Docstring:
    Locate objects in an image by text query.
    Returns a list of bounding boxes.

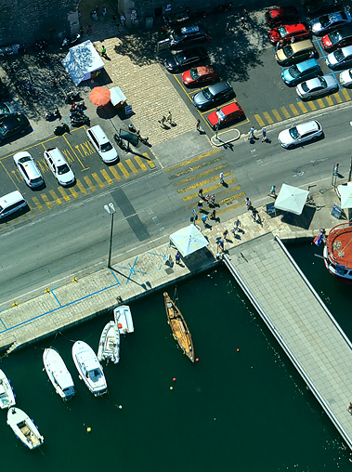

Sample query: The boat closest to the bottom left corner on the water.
[9,405,47,456]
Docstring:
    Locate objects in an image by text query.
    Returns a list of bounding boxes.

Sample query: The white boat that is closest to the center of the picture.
[114,305,136,339]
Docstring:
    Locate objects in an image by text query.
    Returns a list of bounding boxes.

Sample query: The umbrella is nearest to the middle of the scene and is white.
[167,222,212,260]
